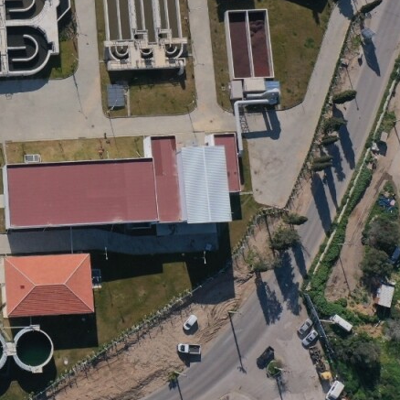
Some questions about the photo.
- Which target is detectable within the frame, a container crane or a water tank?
water tank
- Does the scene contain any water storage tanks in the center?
No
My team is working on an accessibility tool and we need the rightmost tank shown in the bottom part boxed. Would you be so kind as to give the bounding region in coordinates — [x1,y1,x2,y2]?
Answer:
[9,325,54,374]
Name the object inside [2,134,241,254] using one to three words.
building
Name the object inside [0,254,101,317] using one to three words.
building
